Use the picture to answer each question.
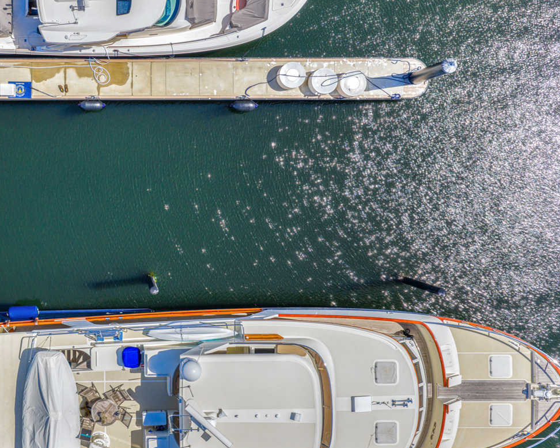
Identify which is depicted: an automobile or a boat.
boat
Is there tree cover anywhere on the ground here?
No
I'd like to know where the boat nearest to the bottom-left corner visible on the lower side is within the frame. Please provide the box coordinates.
[22,339,82,448]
